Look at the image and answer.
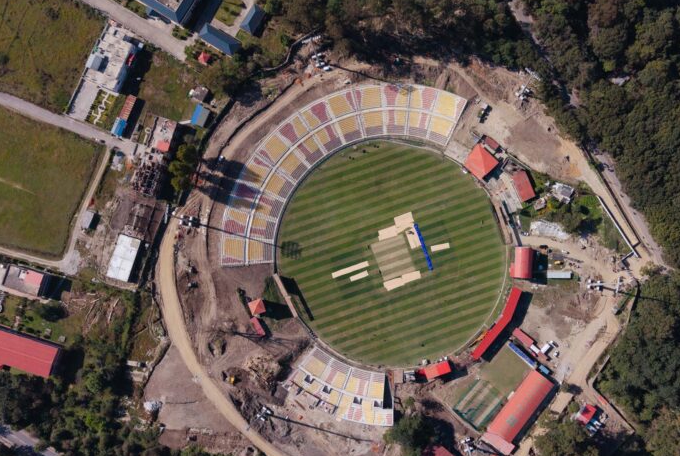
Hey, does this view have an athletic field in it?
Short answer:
Yes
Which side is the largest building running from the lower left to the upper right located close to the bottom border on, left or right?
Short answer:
right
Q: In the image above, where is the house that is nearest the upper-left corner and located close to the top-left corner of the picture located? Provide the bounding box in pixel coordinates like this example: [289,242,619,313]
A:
[86,26,146,89]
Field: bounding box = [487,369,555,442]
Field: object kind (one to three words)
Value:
building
